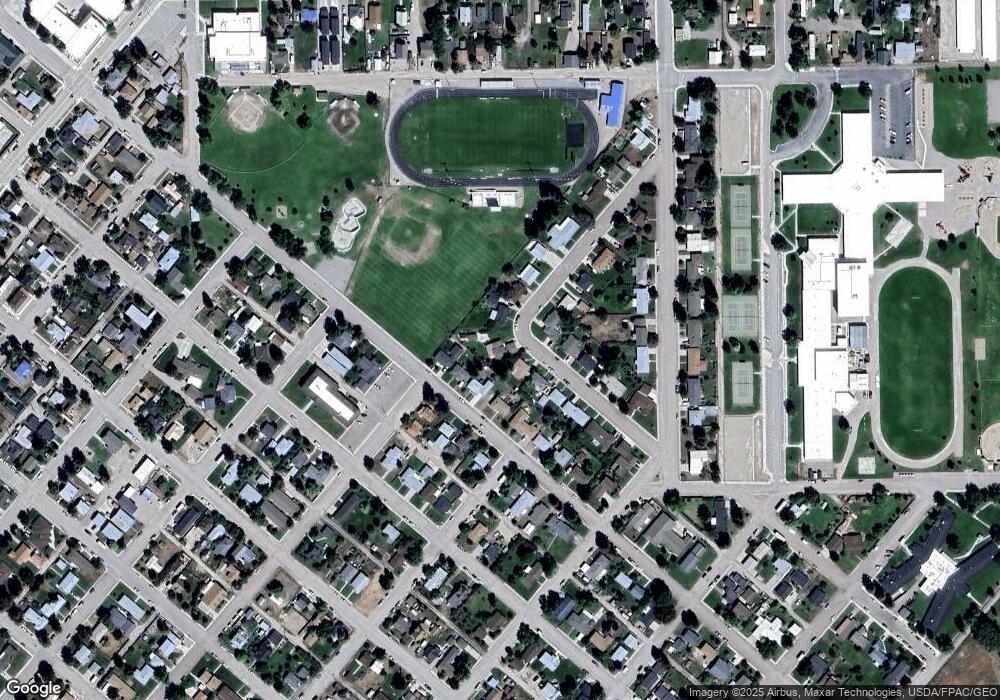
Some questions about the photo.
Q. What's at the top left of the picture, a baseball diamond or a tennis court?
baseball diamond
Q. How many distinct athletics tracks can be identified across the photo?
two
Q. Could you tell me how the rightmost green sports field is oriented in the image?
from top to bottom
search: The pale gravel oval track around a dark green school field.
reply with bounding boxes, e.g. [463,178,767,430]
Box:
[871,260,963,466]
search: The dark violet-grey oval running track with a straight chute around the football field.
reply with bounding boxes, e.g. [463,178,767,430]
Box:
[389,86,600,185]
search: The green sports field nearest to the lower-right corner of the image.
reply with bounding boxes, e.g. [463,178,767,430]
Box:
[879,268,952,459]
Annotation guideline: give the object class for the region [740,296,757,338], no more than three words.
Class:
tennis court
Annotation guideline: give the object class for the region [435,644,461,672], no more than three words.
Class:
house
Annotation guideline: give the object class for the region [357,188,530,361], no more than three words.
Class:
baseball field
